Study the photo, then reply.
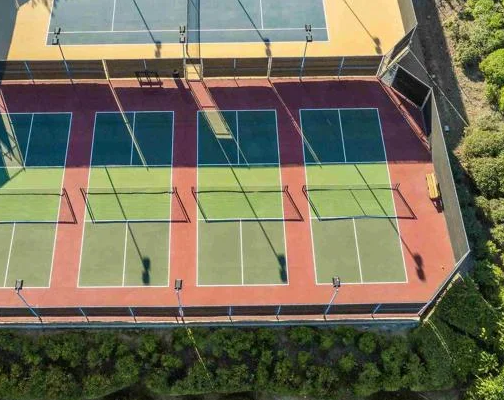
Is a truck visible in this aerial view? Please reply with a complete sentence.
No, I find no truck anywhere in the image.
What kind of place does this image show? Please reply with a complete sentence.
This image shows a sports ground.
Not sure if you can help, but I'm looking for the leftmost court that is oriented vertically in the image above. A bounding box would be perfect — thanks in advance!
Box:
[0,113,72,288]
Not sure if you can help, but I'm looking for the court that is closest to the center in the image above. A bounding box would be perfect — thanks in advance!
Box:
[197,110,289,285]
